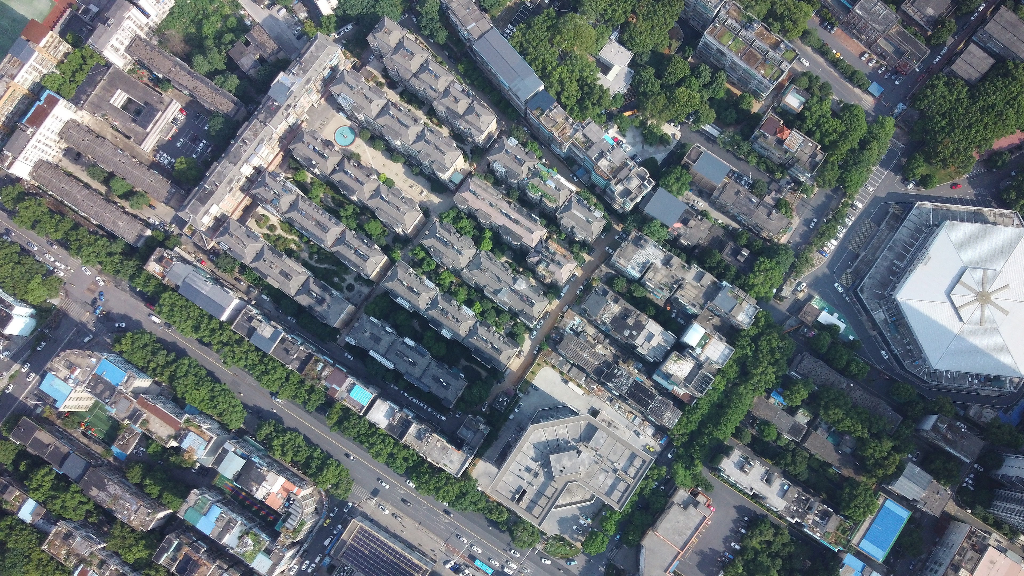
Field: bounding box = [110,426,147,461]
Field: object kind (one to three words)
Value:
house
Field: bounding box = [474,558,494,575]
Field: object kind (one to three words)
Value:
vehicle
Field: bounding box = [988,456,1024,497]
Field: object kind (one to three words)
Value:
building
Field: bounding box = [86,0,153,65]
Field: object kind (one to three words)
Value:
building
